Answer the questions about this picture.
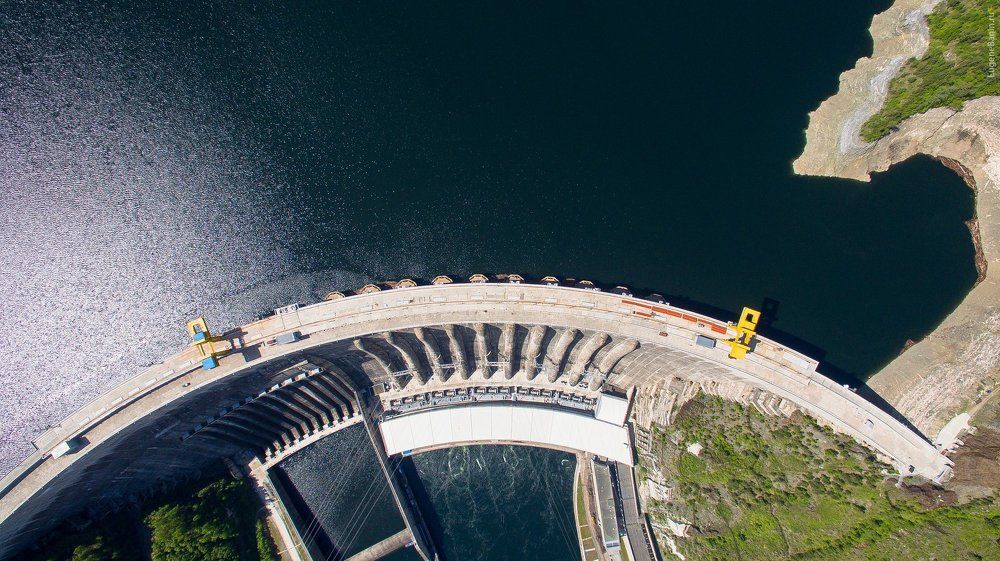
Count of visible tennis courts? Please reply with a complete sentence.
There are no tennis courts in the image.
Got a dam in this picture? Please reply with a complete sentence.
Yes, a dam appears in the view.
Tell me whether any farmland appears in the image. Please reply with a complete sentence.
No, the scene doesn't show any farmland.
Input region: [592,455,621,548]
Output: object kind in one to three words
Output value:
building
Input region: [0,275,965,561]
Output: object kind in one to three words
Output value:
dam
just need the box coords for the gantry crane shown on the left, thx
[191,316,234,370]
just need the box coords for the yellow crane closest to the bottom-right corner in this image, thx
[720,305,760,360]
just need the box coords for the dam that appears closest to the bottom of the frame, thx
[349,529,411,561]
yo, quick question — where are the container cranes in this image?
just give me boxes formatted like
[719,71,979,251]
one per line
[191,316,234,370]
[720,305,760,360]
